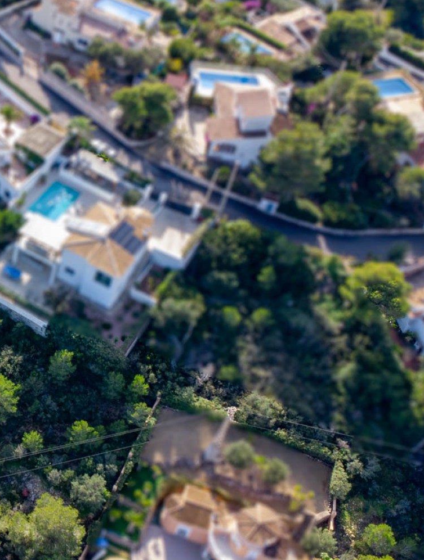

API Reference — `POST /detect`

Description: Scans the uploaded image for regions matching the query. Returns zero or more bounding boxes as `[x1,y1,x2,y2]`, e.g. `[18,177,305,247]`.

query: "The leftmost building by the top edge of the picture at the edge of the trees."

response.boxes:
[32,0,96,59]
